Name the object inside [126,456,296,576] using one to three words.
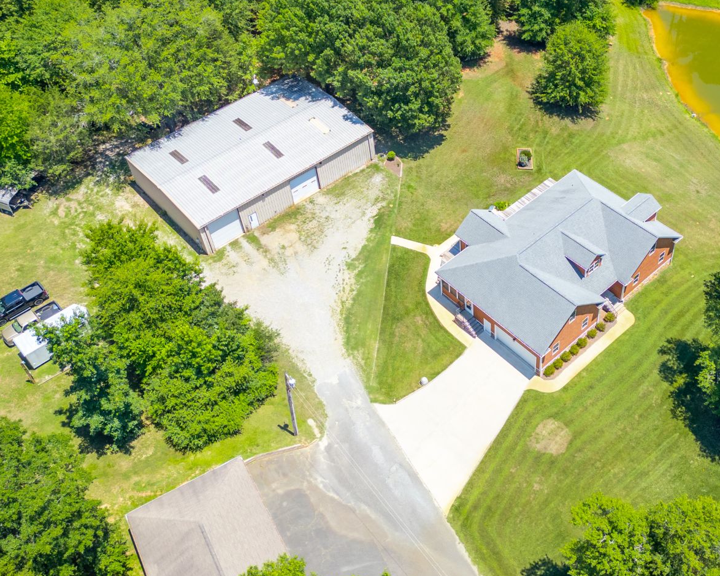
building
